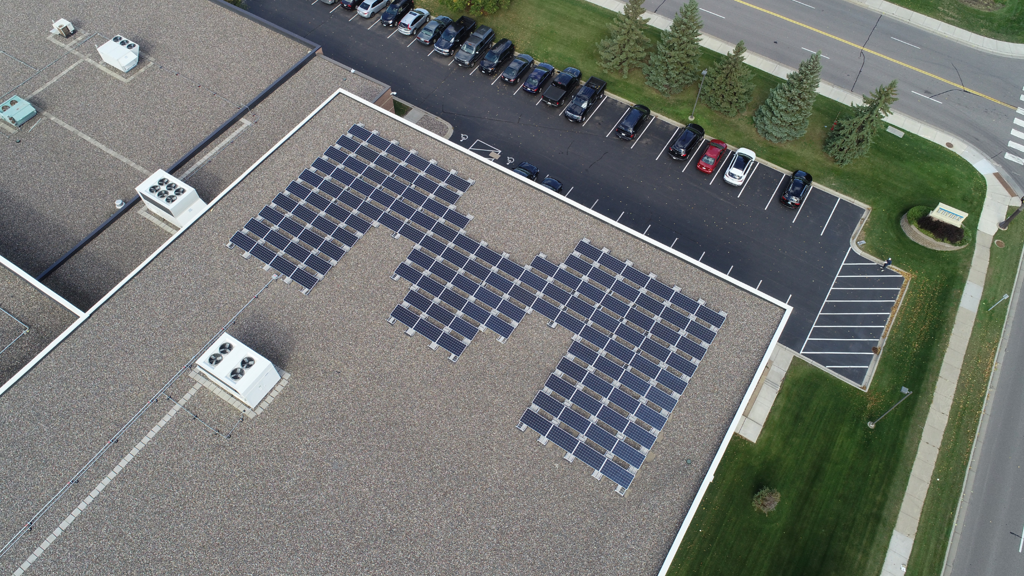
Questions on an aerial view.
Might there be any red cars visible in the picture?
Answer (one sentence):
Yes, looking at the shot, I can spot a red car.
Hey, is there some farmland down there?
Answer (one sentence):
No, no farmland is visible.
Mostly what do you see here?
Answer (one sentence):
What you mostly see from above here is buildings.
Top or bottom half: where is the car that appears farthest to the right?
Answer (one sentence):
The car that appears farthest to the right is in the top half of the image.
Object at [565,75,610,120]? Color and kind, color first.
black truck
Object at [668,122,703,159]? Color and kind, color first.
black car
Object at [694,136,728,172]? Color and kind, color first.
red car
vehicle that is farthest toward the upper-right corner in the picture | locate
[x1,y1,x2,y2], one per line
[778,166,812,206]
